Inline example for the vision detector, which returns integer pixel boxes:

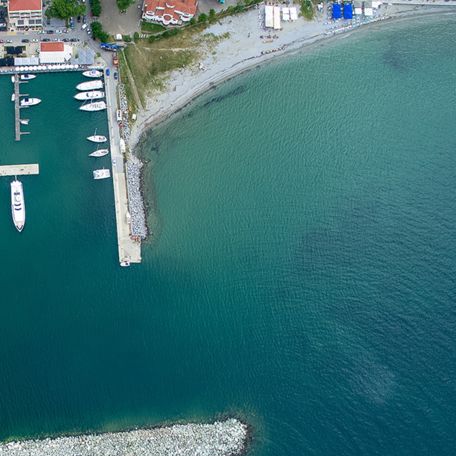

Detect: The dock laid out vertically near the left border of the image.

[15,75,31,141]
